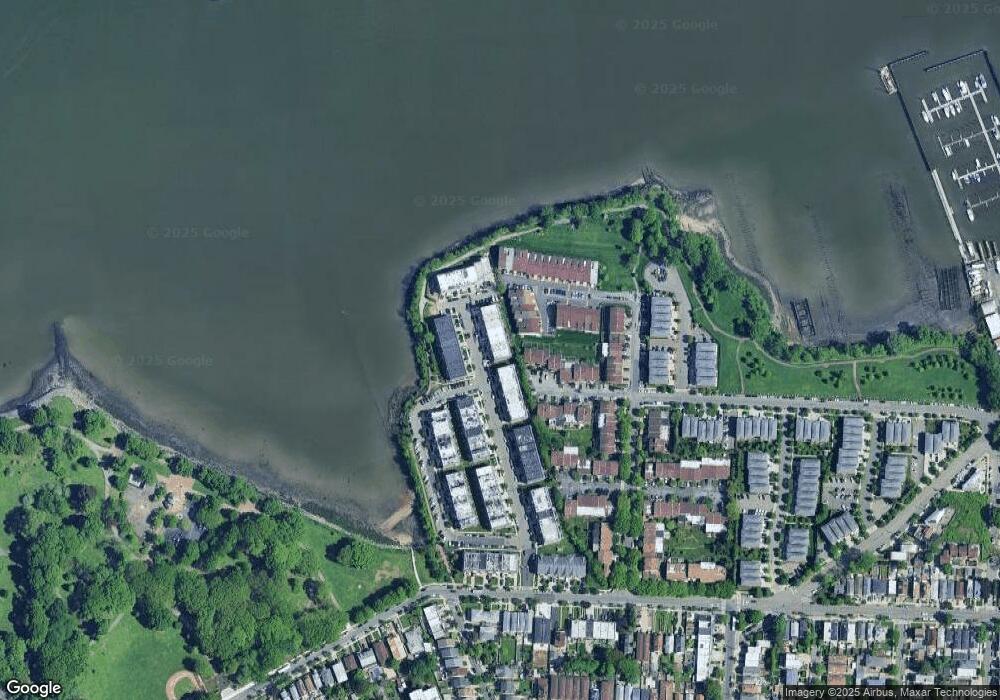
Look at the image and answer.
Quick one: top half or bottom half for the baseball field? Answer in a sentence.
Seen from above, the baseball field lies in the bottom half of the view.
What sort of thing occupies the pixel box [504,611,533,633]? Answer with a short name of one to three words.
house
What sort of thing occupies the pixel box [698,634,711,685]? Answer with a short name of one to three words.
house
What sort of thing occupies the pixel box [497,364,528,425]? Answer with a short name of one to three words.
building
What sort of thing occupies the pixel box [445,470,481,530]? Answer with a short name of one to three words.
building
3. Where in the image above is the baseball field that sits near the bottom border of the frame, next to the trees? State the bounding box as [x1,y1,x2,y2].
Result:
[168,673,208,700]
